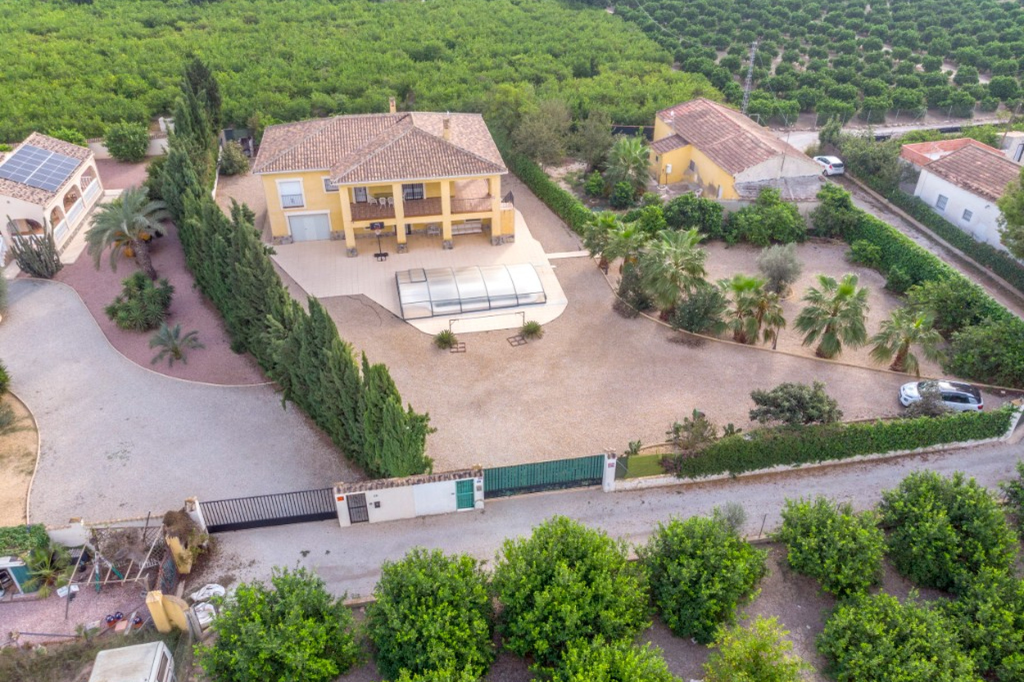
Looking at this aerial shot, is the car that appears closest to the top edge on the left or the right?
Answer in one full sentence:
The car that appears closest to the top edge sits on the right side.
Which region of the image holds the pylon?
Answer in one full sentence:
You can find the pylon in the top right area of the picture.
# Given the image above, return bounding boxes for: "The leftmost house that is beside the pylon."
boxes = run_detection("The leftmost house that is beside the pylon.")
[657,95,819,193]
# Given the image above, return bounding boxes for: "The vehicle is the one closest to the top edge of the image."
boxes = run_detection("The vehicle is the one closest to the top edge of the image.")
[814,155,849,175]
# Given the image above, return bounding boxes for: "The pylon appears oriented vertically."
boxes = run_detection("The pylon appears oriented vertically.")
[739,39,760,118]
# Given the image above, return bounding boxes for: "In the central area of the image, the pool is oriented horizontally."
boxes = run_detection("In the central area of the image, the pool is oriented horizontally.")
[426,297,537,311]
